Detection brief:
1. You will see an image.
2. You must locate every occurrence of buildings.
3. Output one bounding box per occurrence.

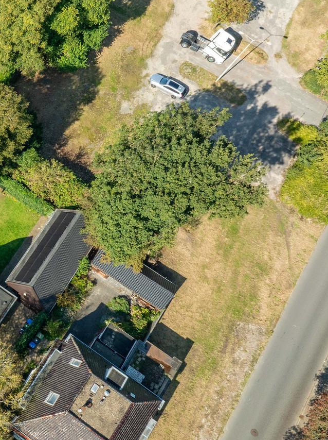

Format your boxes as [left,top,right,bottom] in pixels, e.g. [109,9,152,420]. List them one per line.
[86,242,177,313]
[4,208,95,314]
[10,334,163,440]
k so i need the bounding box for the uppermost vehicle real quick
[181,27,242,66]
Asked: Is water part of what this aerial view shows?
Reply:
No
